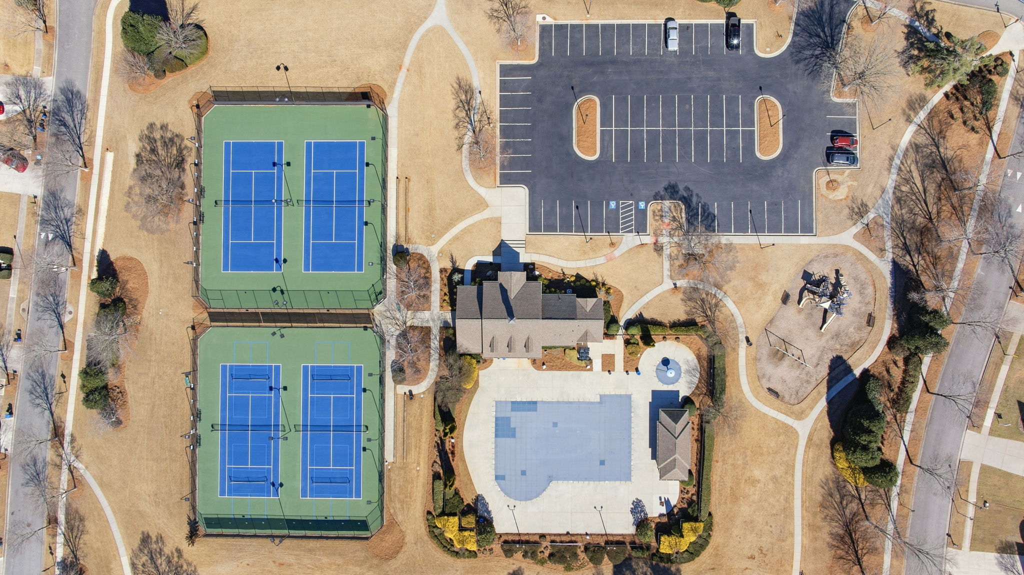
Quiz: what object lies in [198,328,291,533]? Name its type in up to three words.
tennis court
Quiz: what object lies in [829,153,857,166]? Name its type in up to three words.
vehicle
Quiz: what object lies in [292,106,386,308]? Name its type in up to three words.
tennis court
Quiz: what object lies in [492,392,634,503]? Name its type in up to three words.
swimming pool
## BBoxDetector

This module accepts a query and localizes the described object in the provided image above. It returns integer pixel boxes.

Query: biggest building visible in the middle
[456,271,604,358]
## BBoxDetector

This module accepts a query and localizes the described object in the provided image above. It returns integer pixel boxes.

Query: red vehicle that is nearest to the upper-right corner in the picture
[830,136,858,148]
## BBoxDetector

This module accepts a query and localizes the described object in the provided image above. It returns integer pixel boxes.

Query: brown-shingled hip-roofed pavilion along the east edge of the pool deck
[655,409,691,482]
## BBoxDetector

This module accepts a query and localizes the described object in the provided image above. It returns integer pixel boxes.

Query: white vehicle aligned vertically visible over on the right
[665,21,679,52]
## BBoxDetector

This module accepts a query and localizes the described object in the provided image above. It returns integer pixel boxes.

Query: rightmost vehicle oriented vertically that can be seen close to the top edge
[728,17,742,52]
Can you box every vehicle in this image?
[0,152,27,172]
[829,153,857,166]
[728,17,742,52]
[830,136,858,148]
[665,21,679,52]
